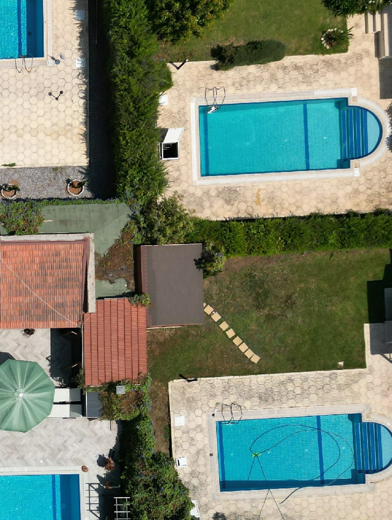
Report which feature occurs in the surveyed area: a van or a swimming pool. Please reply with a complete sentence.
The image shows a swimming pool.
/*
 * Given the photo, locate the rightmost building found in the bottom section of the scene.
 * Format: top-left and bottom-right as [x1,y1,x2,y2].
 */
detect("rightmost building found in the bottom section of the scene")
[355,291,392,349]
